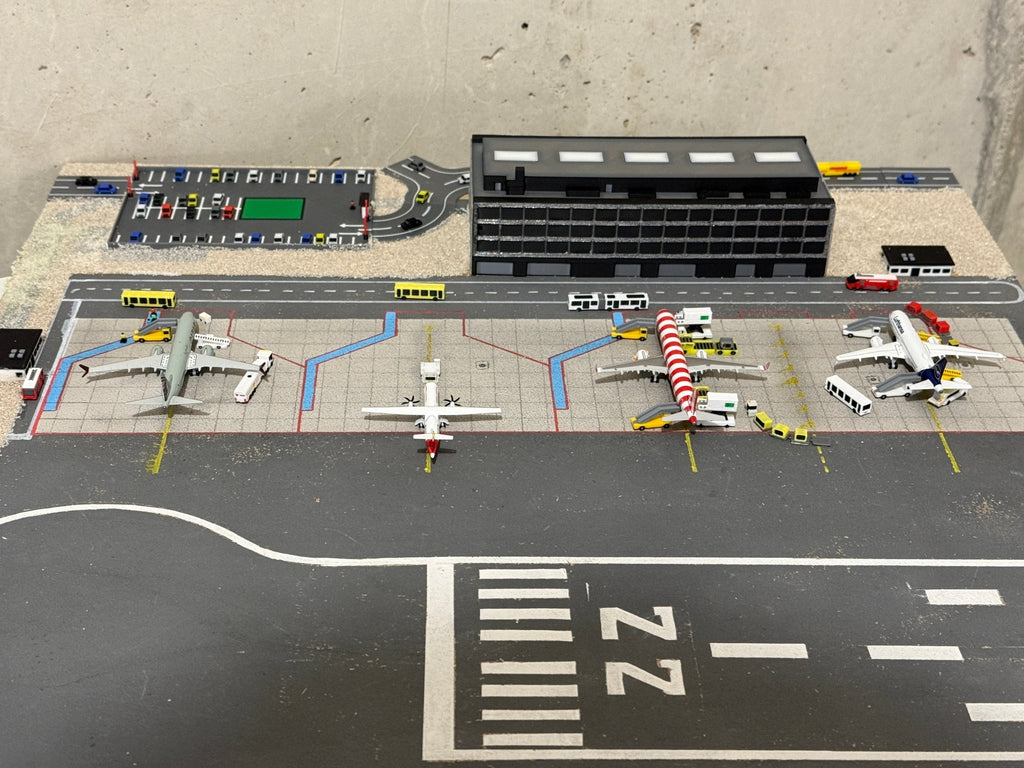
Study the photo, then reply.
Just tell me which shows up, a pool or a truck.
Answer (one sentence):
Visible in the photo is a truck.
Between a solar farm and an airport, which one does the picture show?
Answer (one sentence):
This looks like an airport.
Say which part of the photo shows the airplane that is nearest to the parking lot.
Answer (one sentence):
Look in the left portion of the view to spot the airplane that is nearest to the parking lot.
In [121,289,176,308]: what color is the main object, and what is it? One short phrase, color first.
yellow vehicle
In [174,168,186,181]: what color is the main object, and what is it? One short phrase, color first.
blue vehicle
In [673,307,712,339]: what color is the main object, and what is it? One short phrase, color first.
white truck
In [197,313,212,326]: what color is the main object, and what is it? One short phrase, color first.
white vehicle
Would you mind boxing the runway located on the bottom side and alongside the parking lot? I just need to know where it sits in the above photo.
[0,299,1024,768]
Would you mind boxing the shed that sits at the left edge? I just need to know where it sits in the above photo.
[0,327,42,381]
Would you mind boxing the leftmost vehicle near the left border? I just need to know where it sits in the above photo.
[22,368,44,398]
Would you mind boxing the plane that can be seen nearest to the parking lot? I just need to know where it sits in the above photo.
[77,313,266,408]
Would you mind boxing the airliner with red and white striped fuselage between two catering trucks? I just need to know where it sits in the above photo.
[593,309,767,424]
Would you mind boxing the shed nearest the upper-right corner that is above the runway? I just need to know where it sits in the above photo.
[881,246,956,276]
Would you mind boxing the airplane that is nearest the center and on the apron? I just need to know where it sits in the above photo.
[362,380,501,458]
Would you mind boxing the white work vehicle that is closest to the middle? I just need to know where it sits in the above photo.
[421,361,440,384]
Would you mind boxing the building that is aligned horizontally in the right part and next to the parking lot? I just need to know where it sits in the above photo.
[472,135,836,277]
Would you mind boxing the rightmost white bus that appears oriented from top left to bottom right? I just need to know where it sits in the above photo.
[824,377,876,417]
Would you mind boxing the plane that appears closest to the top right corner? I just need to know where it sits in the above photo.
[836,310,1005,395]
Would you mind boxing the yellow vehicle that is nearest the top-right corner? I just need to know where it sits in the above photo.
[820,162,862,178]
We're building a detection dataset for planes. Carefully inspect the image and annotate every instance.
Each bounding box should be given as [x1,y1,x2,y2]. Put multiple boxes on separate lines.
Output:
[362,380,501,458]
[593,309,767,424]
[836,310,1005,395]
[77,313,266,408]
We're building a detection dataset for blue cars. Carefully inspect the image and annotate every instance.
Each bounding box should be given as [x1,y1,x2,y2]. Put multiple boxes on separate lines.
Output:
[95,184,116,194]
[139,193,150,206]
[174,168,186,181]
[130,231,142,243]
[335,170,344,183]
[251,232,262,244]
[897,175,918,185]
[302,233,312,244]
